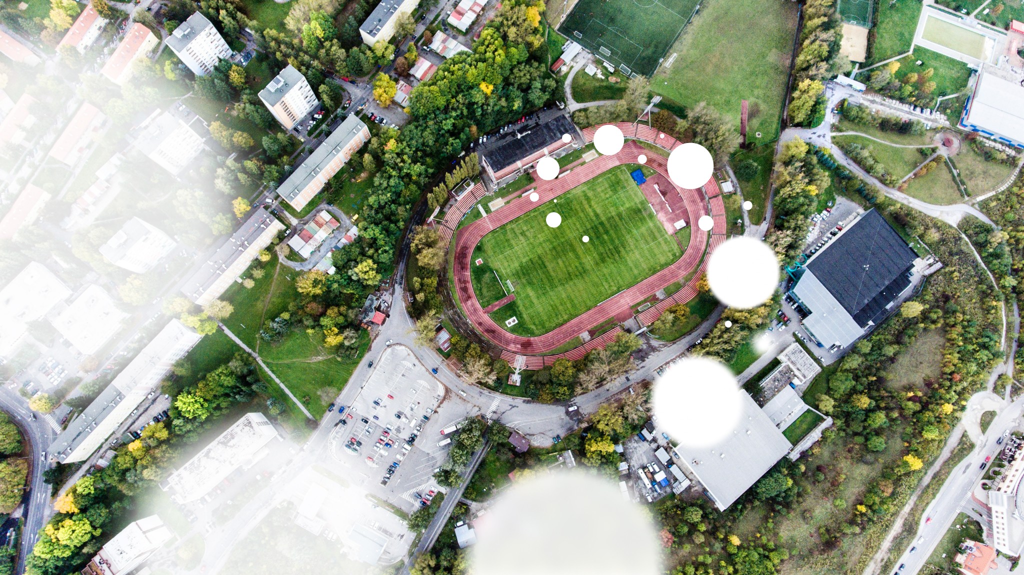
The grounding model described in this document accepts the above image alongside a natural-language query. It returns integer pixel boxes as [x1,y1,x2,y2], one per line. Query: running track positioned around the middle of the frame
[447,139,711,358]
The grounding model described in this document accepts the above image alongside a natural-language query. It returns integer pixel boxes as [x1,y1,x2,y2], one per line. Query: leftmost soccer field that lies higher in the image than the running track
[557,0,703,79]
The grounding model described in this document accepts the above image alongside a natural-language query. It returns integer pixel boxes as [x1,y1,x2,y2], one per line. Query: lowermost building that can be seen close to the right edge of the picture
[959,540,996,575]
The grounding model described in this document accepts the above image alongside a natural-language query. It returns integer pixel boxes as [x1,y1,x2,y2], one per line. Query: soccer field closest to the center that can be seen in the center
[471,163,691,337]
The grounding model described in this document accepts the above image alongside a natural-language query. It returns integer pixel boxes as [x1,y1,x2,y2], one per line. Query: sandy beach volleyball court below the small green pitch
[840,24,869,62]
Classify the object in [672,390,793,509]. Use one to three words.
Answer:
building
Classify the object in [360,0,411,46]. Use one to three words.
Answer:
building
